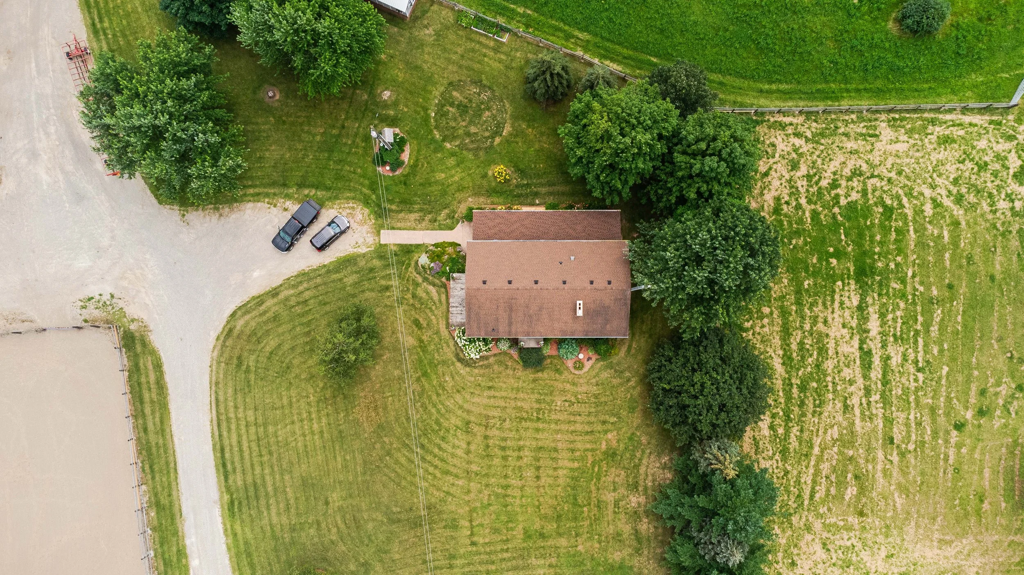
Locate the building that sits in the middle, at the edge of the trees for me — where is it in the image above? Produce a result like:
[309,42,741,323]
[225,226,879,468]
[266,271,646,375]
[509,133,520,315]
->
[465,210,632,338]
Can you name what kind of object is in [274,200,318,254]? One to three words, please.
truck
